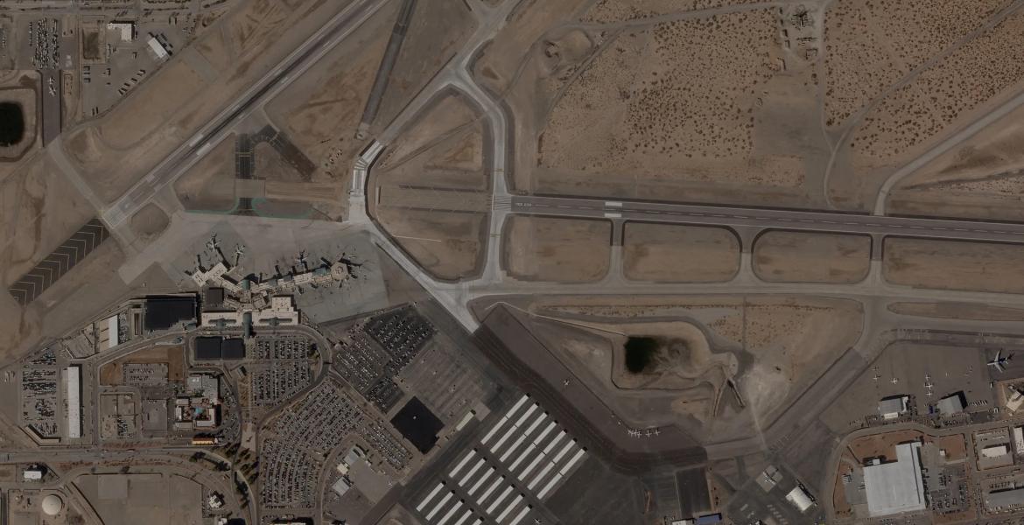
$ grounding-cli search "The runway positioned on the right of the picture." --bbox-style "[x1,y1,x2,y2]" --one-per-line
[491,194,1024,242]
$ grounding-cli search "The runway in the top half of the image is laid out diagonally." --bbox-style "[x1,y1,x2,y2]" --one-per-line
[102,0,386,230]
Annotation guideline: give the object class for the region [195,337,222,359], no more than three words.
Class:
building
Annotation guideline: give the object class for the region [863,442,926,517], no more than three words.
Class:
building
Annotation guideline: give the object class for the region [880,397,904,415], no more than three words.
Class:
hangar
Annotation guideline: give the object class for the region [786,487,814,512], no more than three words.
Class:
hangar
